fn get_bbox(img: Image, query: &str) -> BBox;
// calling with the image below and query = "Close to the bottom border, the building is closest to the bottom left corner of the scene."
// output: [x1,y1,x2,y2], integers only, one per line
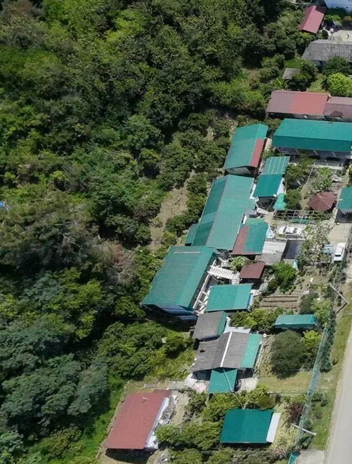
[107,390,184,450]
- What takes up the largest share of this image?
trees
